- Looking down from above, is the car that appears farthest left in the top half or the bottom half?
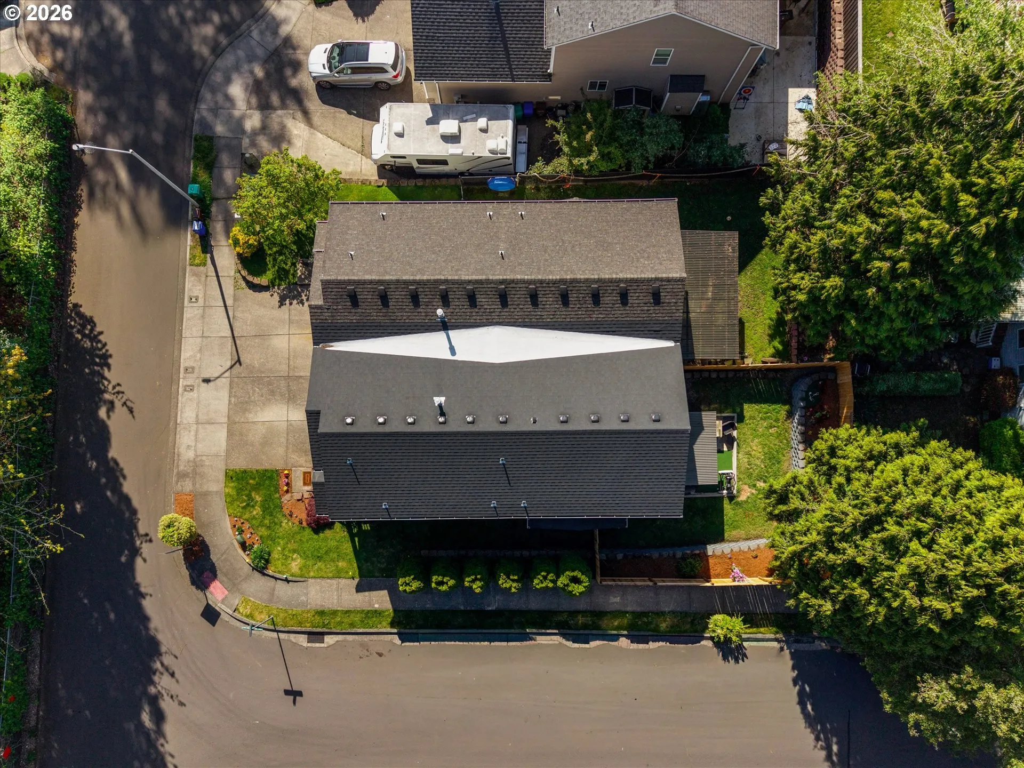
top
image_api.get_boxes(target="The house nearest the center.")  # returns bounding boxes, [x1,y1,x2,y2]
[304,199,691,528]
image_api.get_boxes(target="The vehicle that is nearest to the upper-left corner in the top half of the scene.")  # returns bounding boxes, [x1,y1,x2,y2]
[303,42,404,92]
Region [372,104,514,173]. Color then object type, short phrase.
white camper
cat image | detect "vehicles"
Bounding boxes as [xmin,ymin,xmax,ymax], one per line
[372,104,514,173]
[303,42,404,92]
